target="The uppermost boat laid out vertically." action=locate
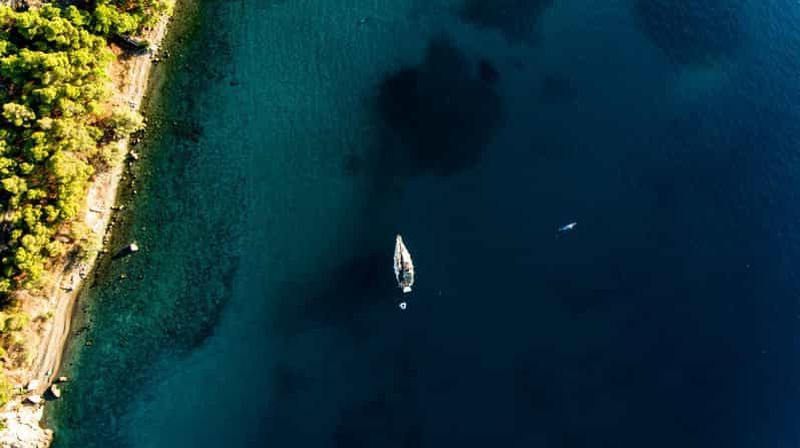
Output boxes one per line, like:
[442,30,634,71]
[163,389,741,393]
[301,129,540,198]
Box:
[393,234,414,293]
